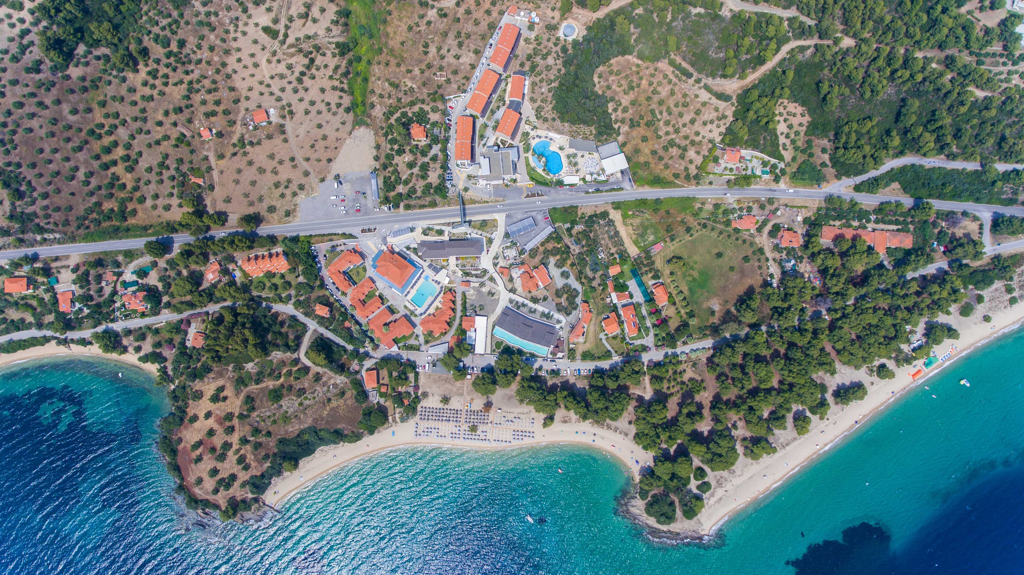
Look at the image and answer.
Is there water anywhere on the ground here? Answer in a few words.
Yes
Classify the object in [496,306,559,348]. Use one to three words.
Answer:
building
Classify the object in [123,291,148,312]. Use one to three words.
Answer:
house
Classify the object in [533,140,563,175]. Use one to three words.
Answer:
swimming pool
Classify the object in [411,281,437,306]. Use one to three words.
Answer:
swimming pool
